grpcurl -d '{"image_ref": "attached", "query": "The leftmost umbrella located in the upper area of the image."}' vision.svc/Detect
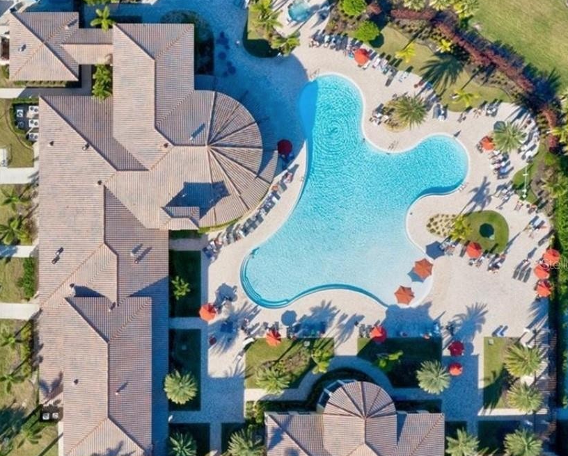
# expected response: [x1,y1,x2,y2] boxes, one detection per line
[275,138,293,157]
